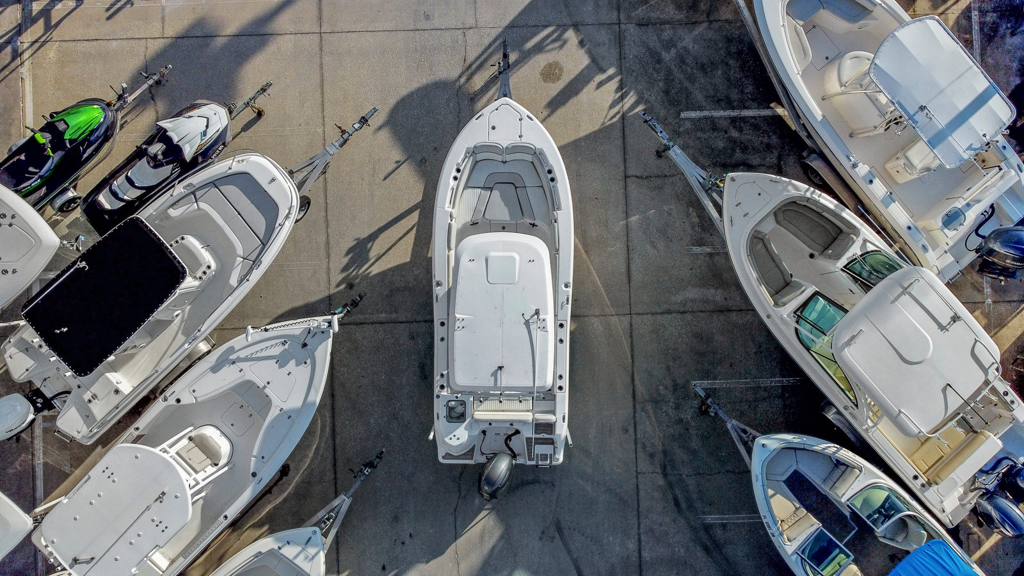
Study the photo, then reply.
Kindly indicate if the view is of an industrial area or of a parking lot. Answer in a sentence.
It's a parking lot.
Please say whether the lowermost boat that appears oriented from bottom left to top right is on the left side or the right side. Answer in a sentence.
It is on the left.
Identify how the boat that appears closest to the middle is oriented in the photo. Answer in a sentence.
In this picture, the boat that appears closest to the middle lies vertically.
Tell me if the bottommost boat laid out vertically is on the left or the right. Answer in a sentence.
The bottommost boat laid out vertically is on the left side of the image.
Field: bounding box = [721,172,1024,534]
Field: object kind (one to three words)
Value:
boat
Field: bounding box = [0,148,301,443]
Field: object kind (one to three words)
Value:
boat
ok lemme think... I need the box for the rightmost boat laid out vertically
[432,98,575,496]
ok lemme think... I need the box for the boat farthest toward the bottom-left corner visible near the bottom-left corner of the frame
[0,480,38,564]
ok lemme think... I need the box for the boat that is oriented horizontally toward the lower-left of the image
[207,525,328,576]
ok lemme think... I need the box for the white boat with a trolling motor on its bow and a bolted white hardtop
[27,314,338,576]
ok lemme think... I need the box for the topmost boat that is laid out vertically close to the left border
[0,182,64,312]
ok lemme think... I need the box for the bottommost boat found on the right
[749,432,987,576]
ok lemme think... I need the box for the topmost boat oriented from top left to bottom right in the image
[748,0,1024,284]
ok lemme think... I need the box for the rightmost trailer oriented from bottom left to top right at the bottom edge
[248,436,398,562]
